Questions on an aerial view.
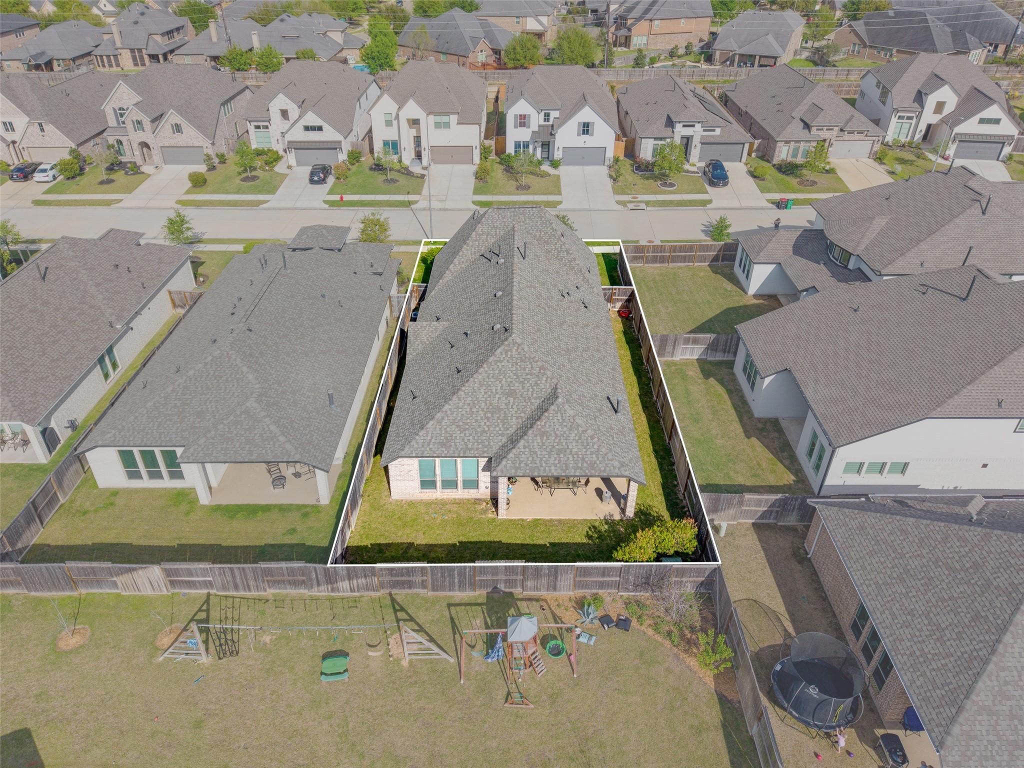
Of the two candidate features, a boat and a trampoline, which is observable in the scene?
trampoline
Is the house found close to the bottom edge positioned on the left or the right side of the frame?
right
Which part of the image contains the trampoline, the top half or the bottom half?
bottom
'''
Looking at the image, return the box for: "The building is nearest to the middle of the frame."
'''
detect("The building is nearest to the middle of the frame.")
[382,204,648,519]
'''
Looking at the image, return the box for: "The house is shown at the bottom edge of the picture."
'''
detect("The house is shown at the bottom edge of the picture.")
[814,481,1024,768]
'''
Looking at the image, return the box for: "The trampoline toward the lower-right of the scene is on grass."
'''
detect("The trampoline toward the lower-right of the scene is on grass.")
[771,632,876,747]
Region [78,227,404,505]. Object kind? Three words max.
house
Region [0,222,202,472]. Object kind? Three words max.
house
